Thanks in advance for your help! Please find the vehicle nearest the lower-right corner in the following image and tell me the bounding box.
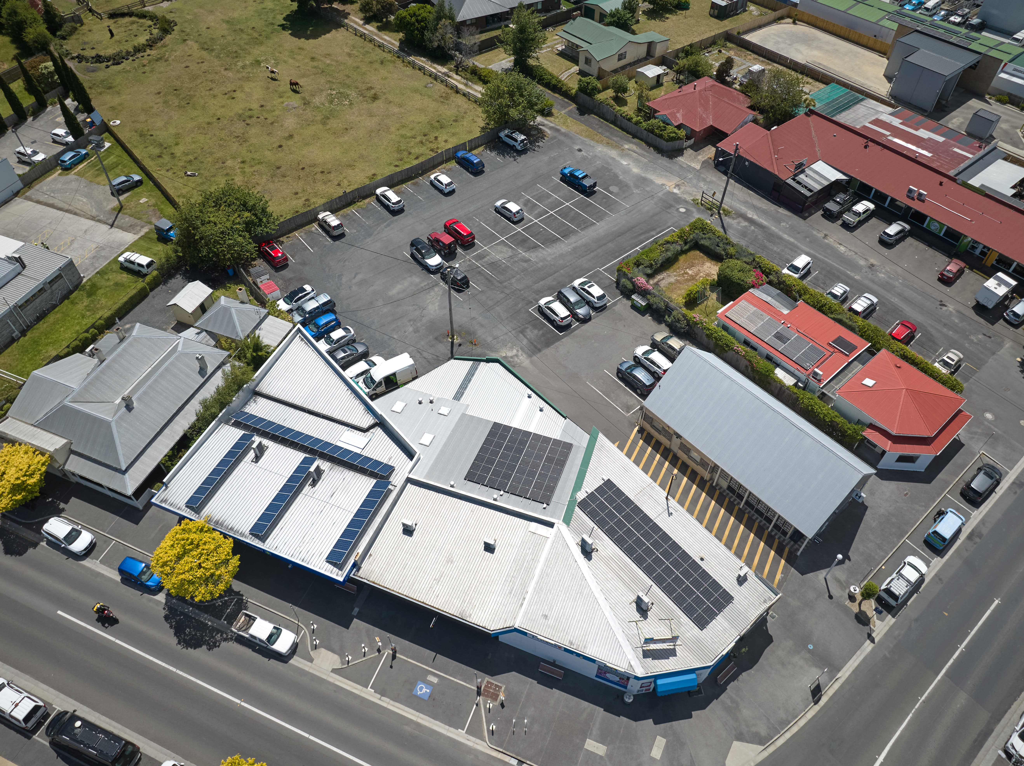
[994,705,1024,764]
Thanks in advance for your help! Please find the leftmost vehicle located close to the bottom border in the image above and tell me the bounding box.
[0,676,52,736]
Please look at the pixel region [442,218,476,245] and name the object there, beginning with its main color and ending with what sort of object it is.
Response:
red car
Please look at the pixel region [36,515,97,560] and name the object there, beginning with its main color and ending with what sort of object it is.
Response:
white car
